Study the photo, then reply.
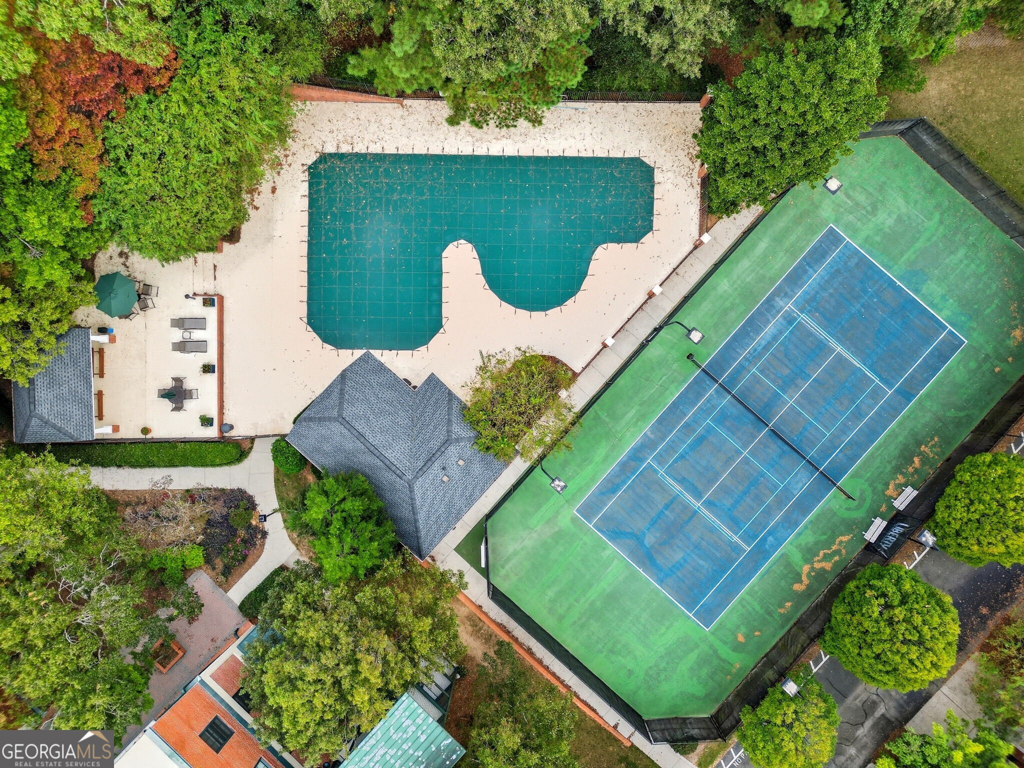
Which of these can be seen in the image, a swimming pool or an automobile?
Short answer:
swimming pool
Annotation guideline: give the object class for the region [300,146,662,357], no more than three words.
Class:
swimming pool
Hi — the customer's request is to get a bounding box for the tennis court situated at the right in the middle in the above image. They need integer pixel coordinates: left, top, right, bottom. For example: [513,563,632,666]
[484,134,1024,721]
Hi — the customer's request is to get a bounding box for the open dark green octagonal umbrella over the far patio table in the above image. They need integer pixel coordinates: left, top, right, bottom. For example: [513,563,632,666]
[94,272,140,318]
